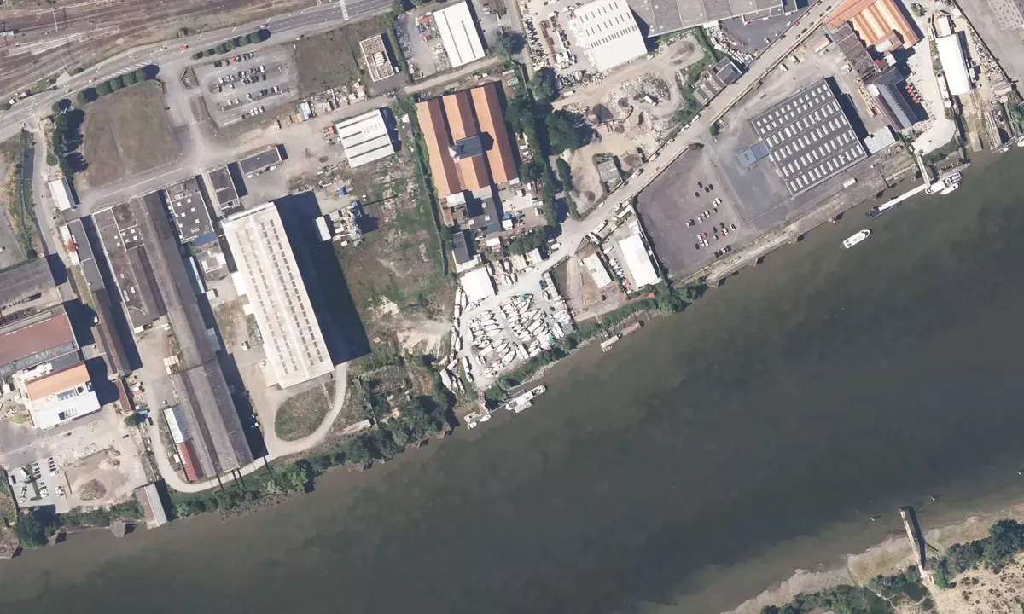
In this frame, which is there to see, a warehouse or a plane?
warehouse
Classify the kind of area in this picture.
port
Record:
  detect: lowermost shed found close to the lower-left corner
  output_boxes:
[135,483,167,529]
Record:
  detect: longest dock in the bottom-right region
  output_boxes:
[900,509,926,571]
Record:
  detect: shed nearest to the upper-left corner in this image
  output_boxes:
[49,178,77,211]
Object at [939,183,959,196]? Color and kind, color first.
white boat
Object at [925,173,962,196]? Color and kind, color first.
white boat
